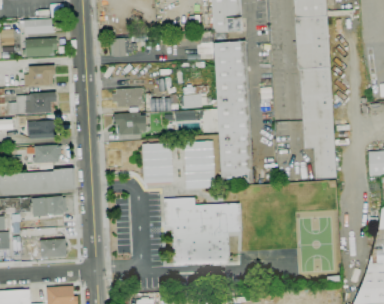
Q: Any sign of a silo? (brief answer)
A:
No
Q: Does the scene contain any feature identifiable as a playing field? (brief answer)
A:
Yes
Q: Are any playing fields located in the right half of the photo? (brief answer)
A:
Yes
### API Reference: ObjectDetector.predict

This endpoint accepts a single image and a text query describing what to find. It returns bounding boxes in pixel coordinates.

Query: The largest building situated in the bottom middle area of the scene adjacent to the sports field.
[165,196,240,267]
